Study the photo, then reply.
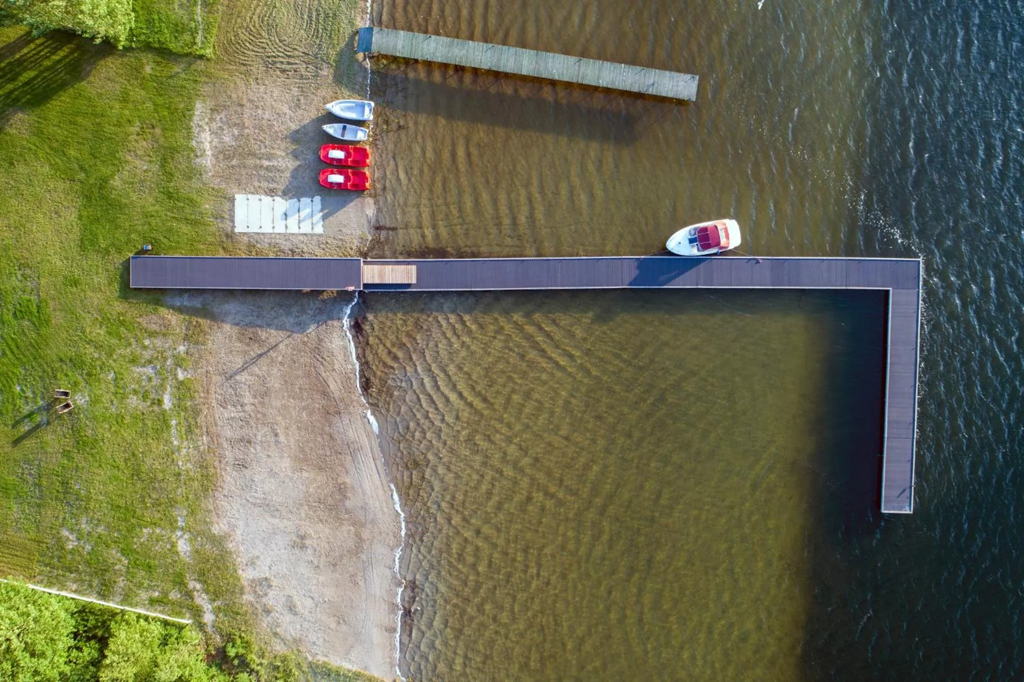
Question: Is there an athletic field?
No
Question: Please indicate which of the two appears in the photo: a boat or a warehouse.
boat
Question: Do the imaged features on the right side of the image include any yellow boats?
No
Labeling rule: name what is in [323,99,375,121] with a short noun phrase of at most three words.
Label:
boat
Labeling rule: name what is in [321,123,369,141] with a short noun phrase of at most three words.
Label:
boat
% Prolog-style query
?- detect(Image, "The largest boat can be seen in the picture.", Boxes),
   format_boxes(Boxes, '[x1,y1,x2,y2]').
[665,219,741,256]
